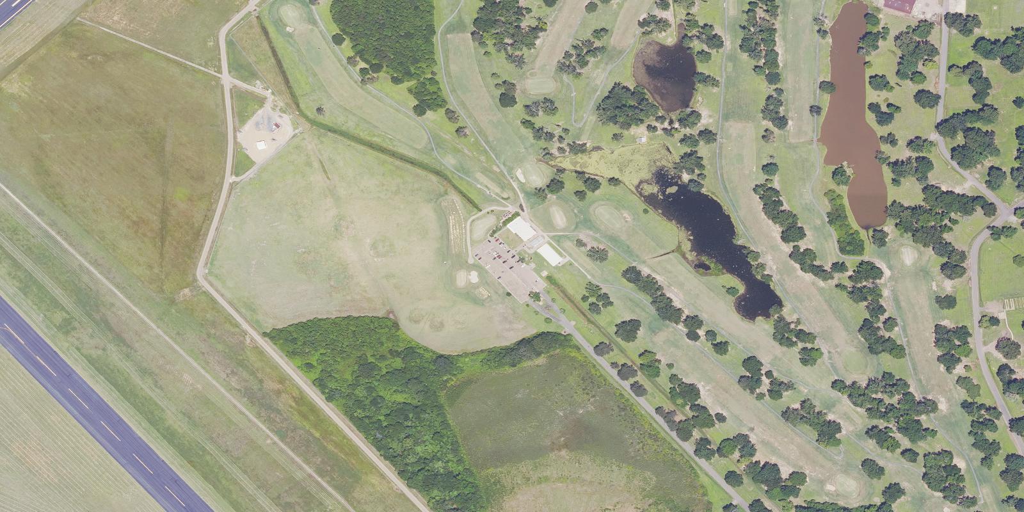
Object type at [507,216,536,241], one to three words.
building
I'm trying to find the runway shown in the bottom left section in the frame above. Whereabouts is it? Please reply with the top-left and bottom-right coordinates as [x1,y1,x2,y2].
[0,296,213,512]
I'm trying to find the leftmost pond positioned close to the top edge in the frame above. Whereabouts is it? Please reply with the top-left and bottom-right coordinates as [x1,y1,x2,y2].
[633,23,697,112]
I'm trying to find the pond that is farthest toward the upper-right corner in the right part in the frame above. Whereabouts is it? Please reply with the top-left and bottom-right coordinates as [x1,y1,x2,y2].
[817,1,888,230]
